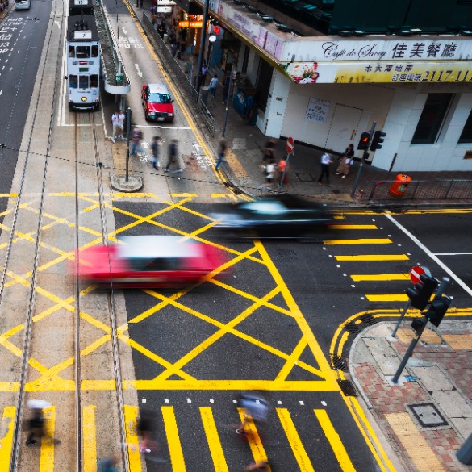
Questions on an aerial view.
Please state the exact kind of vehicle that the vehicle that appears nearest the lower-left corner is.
automobile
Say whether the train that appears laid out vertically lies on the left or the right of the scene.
left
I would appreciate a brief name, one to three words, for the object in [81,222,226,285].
car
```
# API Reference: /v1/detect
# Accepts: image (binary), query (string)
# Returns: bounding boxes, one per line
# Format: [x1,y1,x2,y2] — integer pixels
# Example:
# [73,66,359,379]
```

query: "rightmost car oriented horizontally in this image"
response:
[202,180,339,235]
